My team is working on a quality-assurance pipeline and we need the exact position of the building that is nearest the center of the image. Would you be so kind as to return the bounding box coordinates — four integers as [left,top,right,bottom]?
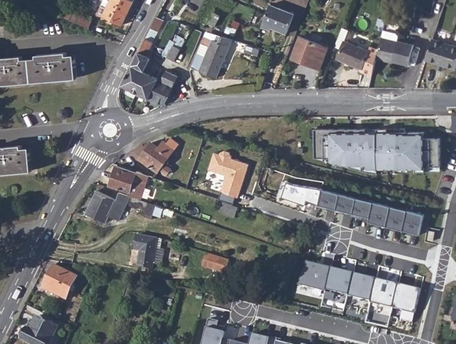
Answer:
[208,151,249,217]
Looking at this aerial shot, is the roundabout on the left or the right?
left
